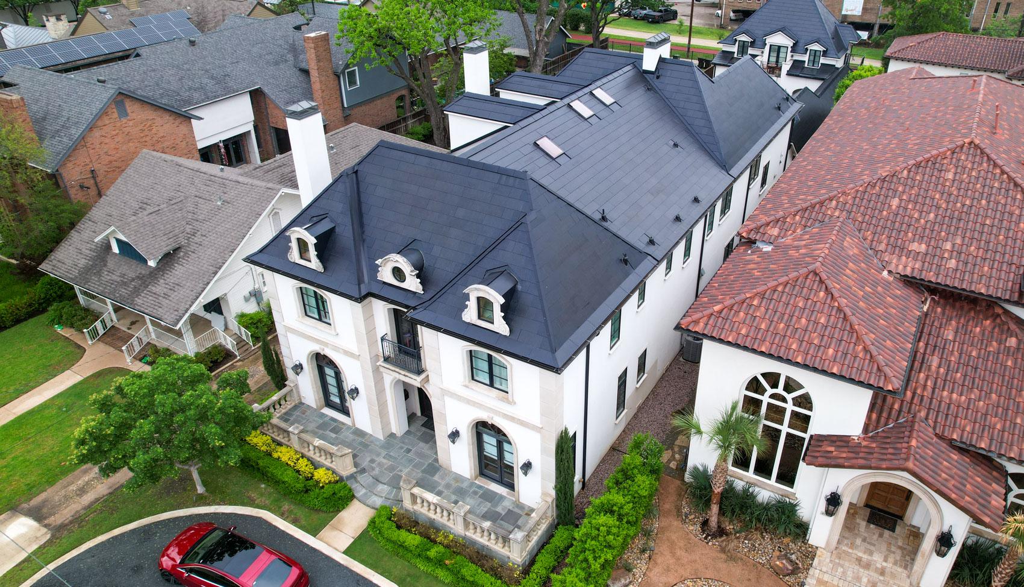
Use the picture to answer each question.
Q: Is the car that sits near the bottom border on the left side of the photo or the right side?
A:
left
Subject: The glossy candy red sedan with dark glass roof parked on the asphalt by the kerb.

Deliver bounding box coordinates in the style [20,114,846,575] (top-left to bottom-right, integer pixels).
[163,520,304,587]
